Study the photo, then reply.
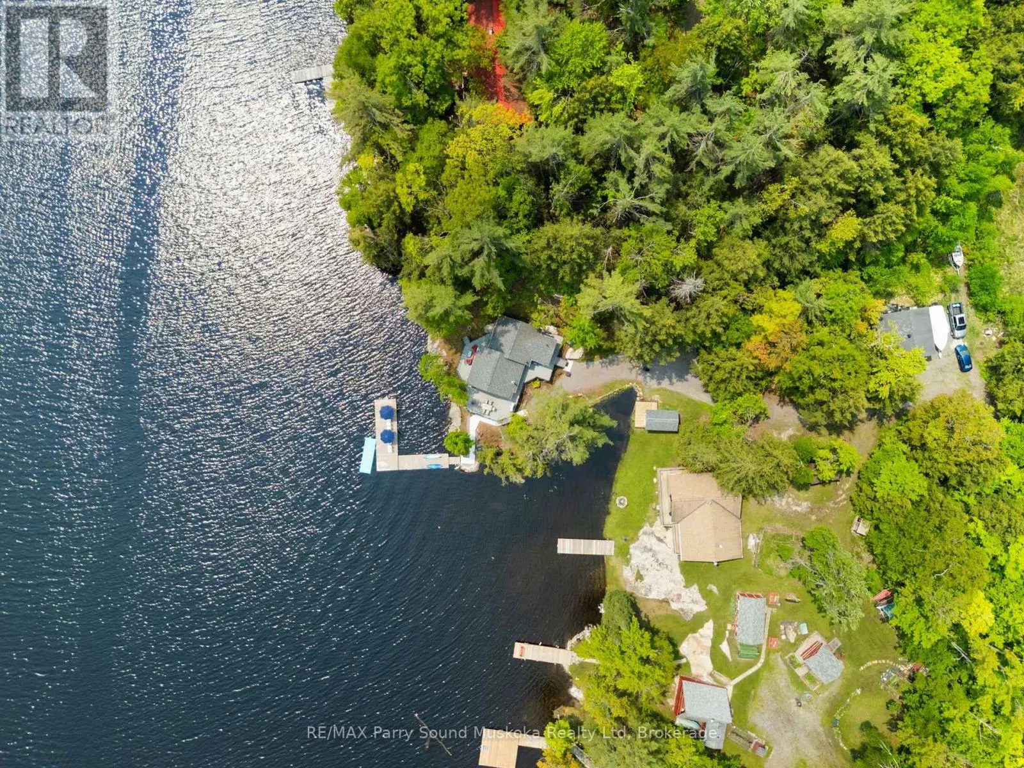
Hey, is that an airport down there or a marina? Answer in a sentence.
The picture captures a marina.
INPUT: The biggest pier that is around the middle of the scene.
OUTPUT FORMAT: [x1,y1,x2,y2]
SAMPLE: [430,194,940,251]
[373,399,461,471]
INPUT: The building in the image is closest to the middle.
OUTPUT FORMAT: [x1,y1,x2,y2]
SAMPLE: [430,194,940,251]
[458,317,572,421]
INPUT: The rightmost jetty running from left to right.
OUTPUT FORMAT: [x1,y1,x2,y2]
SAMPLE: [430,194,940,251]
[556,537,615,555]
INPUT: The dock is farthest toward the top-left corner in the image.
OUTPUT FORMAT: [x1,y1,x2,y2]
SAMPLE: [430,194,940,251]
[293,62,339,85]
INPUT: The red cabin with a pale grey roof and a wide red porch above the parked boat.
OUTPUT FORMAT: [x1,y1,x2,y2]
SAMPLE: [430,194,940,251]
[675,674,732,749]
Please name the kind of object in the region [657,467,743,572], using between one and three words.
house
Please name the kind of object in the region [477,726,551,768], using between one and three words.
pier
